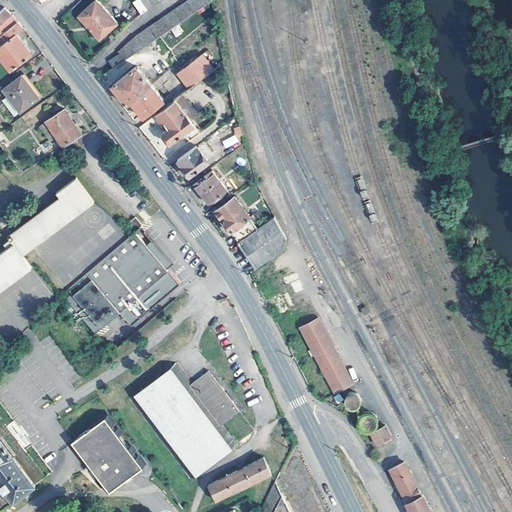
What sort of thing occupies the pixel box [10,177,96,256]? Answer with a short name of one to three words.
building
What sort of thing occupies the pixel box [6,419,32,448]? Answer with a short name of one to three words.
shed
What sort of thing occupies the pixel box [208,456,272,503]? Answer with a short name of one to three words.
house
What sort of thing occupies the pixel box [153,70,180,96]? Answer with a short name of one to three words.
building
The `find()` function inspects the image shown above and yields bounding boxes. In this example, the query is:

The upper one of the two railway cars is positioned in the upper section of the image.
[353,174,368,201]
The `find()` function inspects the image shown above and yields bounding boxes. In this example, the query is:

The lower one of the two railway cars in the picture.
[364,199,380,224]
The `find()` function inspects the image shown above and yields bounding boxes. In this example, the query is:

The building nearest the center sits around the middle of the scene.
[238,218,288,270]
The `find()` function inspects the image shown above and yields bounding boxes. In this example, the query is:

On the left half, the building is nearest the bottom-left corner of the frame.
[0,438,36,506]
